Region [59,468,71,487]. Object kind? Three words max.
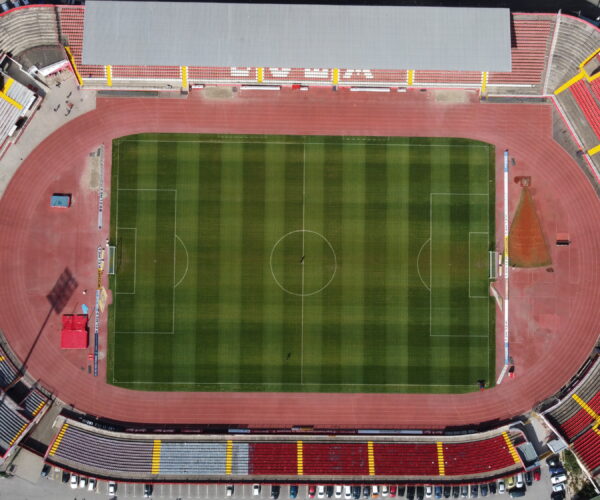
vehicle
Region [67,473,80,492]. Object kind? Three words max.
vehicle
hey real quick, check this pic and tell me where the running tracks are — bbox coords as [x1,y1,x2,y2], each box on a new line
[0,87,600,429]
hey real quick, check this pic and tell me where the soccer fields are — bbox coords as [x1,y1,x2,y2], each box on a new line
[107,132,496,394]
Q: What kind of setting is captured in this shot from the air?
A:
sports ground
